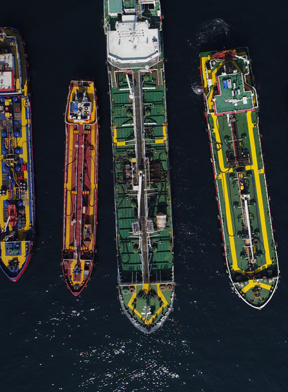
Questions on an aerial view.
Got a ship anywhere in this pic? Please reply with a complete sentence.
Yes, the frame does contain a ship.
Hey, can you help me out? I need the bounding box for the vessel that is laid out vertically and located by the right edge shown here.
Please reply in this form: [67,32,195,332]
[198,47,279,310]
